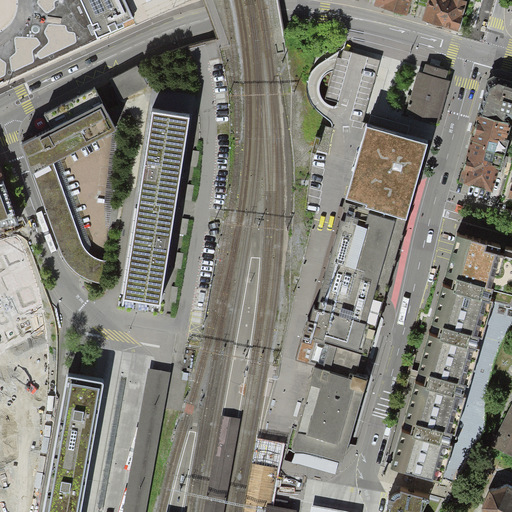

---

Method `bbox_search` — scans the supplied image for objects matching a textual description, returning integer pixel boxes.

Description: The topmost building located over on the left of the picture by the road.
[78,0,134,40]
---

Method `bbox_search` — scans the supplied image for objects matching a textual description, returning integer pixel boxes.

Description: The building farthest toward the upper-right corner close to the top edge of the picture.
[421,0,466,33]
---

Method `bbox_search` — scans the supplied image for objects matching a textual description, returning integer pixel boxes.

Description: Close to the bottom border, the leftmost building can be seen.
[43,376,106,512]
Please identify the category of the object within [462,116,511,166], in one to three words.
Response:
house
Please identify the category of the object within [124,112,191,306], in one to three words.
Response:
building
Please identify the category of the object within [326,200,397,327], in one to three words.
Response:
building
